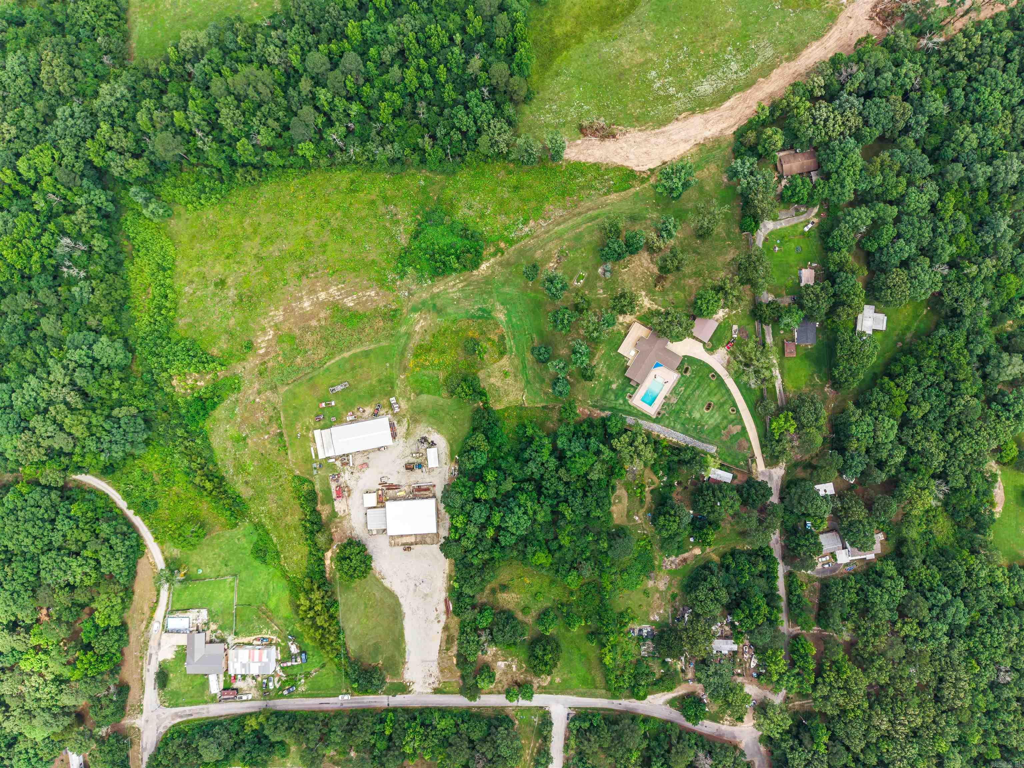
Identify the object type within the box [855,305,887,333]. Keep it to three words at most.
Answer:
house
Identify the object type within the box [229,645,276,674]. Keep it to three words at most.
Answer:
barn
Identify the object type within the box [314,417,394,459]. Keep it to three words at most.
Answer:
building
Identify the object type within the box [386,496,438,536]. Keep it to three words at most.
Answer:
building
